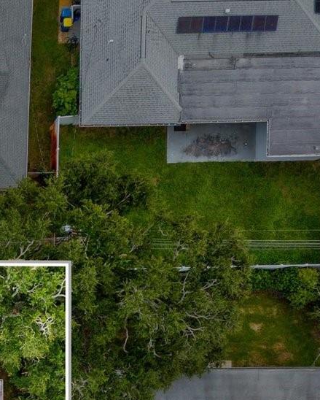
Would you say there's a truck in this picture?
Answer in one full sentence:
No, the scene contains no truck.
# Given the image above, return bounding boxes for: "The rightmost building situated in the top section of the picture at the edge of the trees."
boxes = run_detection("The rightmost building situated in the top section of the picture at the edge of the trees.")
[76,0,320,160]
